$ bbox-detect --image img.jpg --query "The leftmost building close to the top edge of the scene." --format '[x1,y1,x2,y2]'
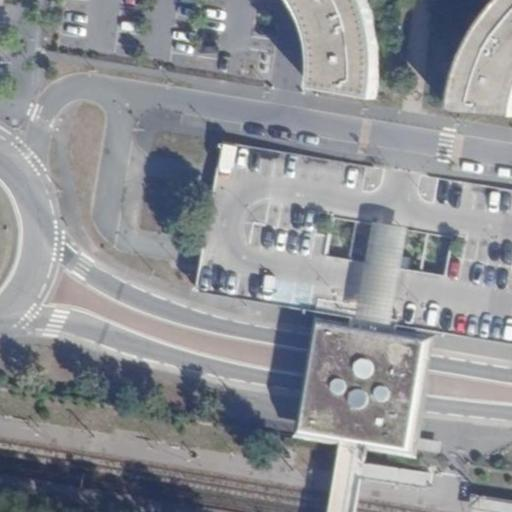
[282,0,379,105]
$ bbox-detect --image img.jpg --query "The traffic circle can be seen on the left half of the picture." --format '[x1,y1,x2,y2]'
[0,132,64,339]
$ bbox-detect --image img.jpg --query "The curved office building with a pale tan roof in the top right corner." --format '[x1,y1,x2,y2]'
[444,0,512,123]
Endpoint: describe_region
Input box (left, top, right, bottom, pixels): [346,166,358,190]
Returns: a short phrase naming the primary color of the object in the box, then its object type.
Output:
white vehicle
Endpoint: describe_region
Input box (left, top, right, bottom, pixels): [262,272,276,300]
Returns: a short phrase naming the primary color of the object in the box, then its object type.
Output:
white vehicle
